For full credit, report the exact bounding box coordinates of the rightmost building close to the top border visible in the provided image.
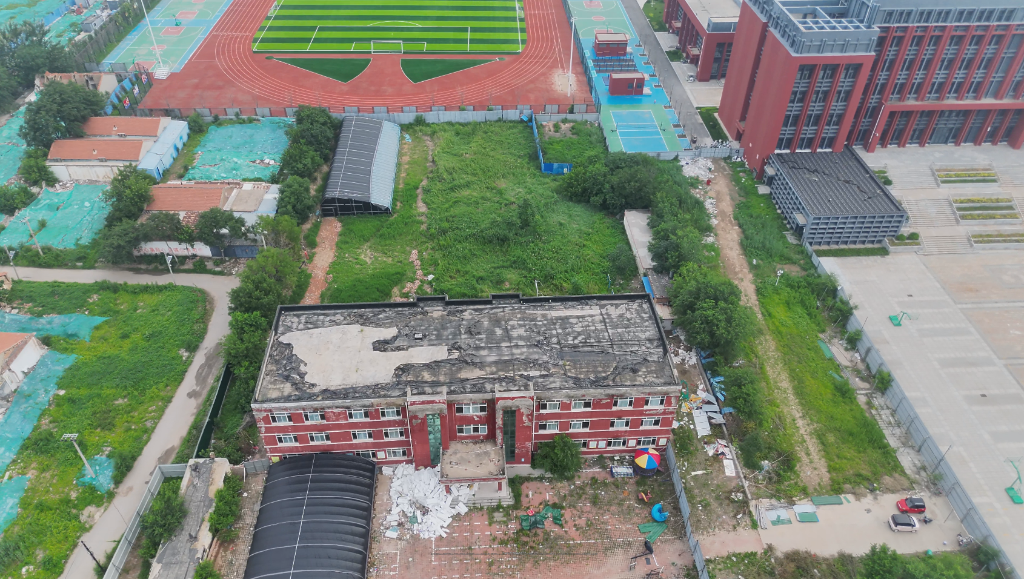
[719,0,1024,179]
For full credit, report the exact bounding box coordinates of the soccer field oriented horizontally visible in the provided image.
[245,0,527,55]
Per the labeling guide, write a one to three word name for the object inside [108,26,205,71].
basketball court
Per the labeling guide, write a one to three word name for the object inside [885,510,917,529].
car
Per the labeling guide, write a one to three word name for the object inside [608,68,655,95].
shed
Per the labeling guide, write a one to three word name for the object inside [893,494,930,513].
car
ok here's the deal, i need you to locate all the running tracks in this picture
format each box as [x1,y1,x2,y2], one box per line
[121,0,595,116]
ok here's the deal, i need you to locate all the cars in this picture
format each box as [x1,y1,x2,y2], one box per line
[885,510,917,529]
[893,494,930,513]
